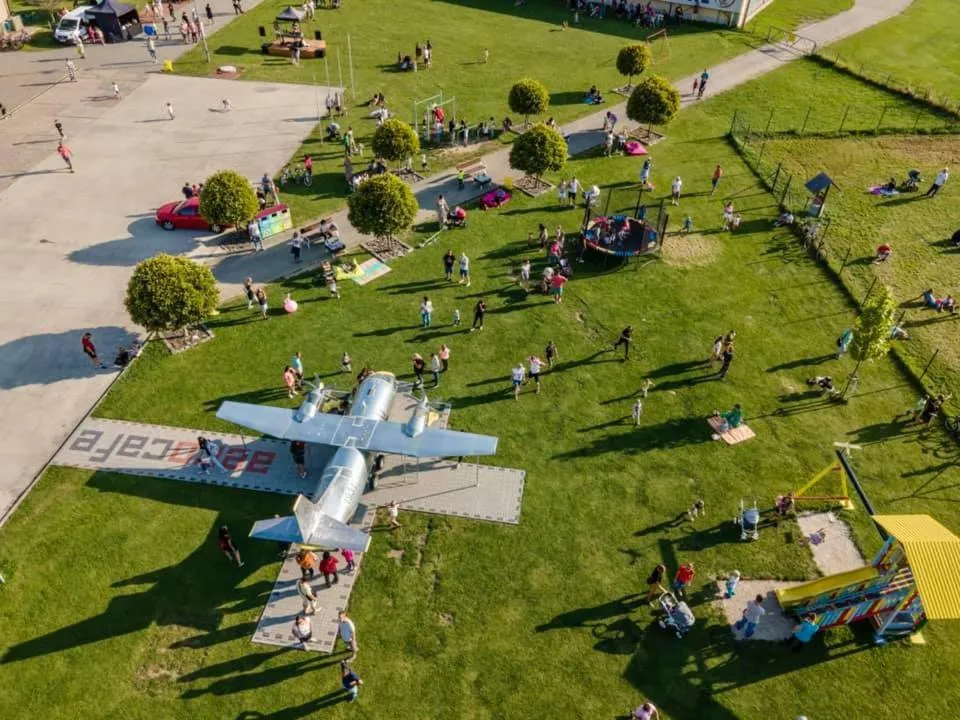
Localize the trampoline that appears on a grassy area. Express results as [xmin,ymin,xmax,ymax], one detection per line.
[580,184,666,269]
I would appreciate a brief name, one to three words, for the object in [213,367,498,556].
airplane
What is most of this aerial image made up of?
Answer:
grass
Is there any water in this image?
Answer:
No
